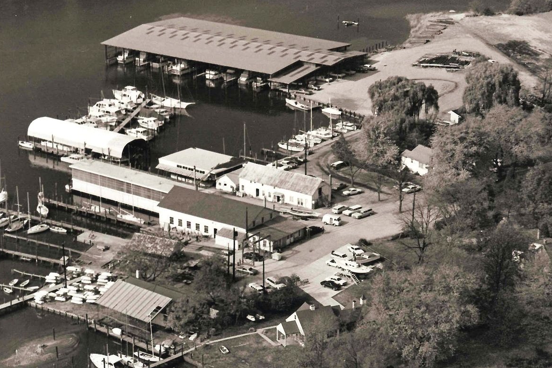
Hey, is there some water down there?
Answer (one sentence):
Yes, some water is visible.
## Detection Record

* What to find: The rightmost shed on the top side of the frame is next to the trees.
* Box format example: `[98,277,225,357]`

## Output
[447,103,476,124]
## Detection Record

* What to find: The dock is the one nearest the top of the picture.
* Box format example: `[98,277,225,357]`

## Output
[115,96,154,128]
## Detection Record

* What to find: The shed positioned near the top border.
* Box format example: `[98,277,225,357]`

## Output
[102,17,375,98]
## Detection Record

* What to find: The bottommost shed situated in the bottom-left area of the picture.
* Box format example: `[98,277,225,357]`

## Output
[96,279,206,337]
